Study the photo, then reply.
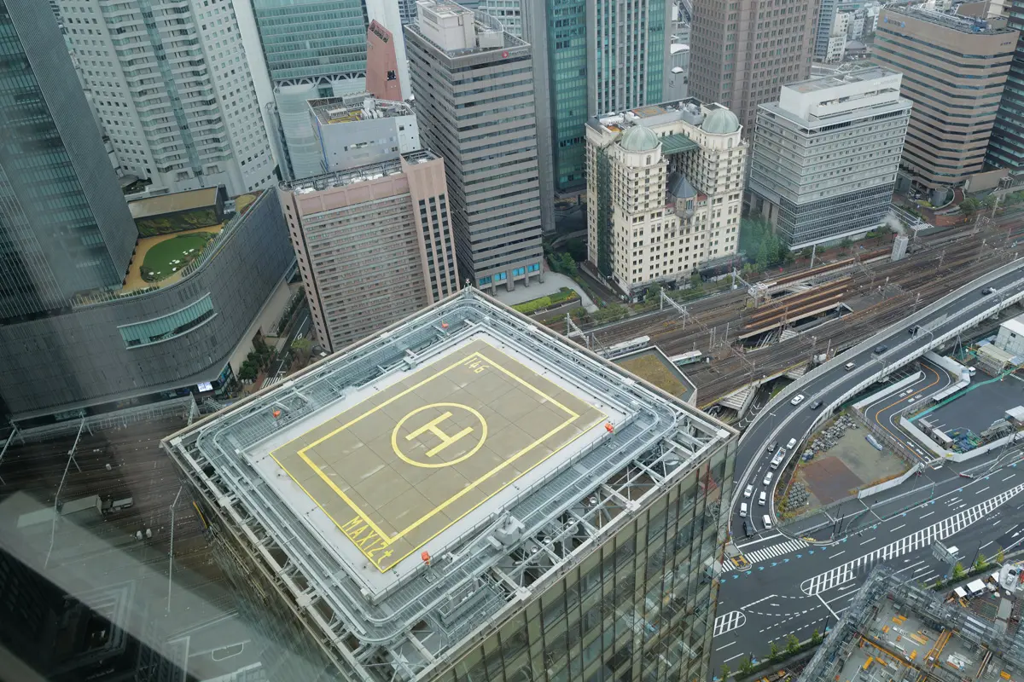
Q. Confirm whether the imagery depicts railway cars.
Yes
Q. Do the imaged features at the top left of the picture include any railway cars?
No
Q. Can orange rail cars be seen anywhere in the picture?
No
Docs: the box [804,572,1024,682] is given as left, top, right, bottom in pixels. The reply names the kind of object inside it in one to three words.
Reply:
building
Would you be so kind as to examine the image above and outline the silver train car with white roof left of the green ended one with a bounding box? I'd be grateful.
[596,338,650,355]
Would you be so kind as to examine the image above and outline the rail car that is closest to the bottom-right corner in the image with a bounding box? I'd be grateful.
[668,350,703,368]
